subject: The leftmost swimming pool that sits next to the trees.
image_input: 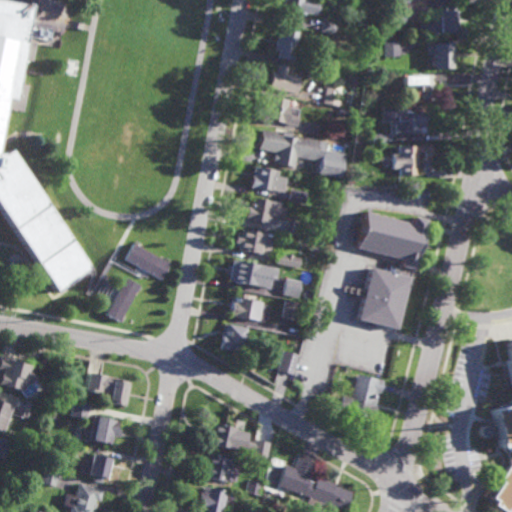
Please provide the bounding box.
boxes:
[21,380,40,398]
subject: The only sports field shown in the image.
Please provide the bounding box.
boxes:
[72,0,206,214]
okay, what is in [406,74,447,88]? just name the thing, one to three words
building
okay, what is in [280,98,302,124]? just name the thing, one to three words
building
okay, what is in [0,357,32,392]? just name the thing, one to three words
house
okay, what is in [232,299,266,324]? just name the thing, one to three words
house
